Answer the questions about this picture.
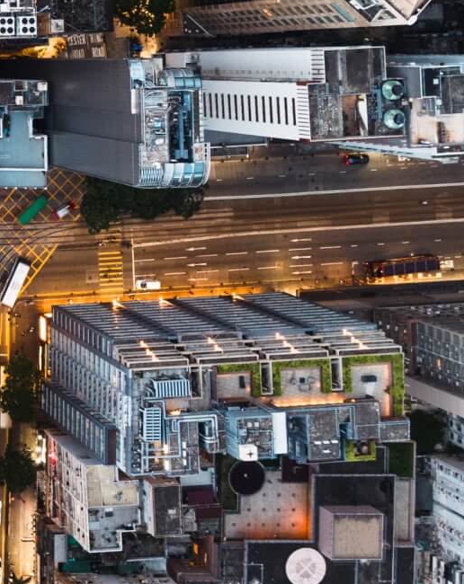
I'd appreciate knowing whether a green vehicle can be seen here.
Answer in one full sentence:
Yes, the picture does show a green vehicle.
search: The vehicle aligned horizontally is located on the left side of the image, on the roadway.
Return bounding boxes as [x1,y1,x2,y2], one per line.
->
[134,277,163,290]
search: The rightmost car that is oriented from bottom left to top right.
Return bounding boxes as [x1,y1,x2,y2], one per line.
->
[52,199,78,220]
